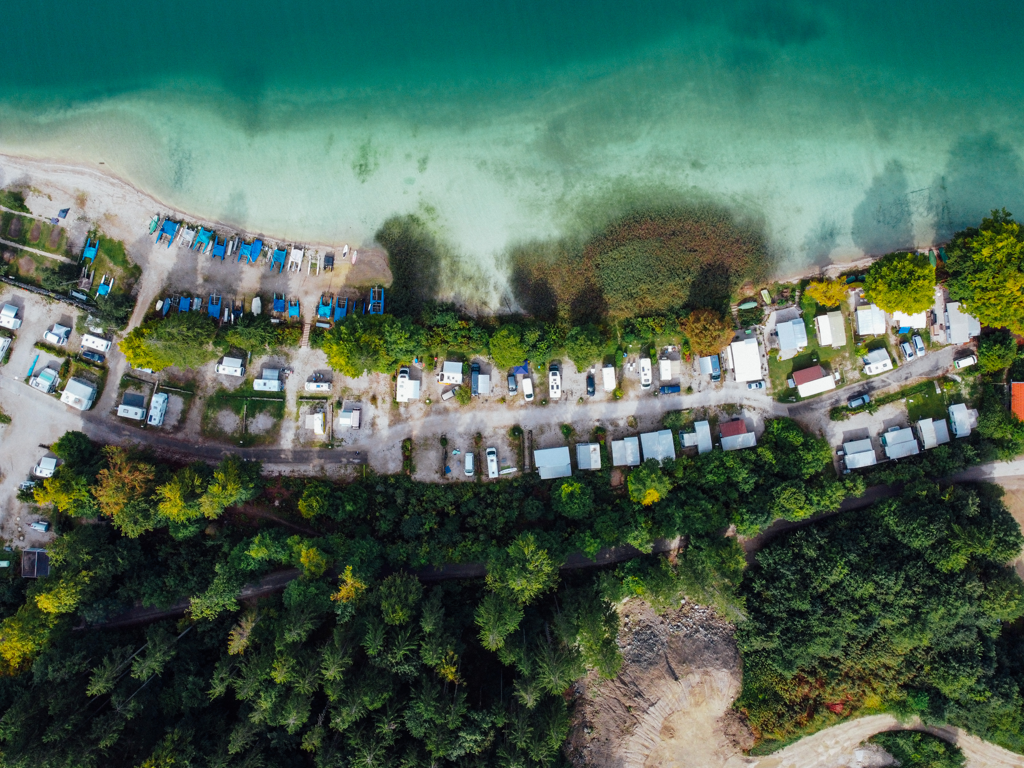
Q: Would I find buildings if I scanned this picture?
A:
Yes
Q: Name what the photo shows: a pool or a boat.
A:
boat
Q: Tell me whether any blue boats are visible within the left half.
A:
Yes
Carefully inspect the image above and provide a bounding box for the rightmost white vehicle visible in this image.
[954,355,977,369]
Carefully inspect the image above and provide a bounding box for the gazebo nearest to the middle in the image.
[514,360,528,374]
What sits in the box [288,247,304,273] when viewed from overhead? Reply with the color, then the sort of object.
white boat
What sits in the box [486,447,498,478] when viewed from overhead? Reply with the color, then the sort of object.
white vehicle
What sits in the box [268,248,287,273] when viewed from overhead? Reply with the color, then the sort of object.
blue boat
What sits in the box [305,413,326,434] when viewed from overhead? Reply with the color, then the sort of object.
white vehicle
